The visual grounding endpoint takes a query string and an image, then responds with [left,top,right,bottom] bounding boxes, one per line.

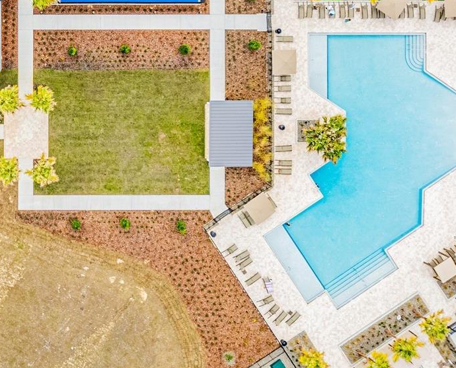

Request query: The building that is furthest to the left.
[204,100,253,167]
